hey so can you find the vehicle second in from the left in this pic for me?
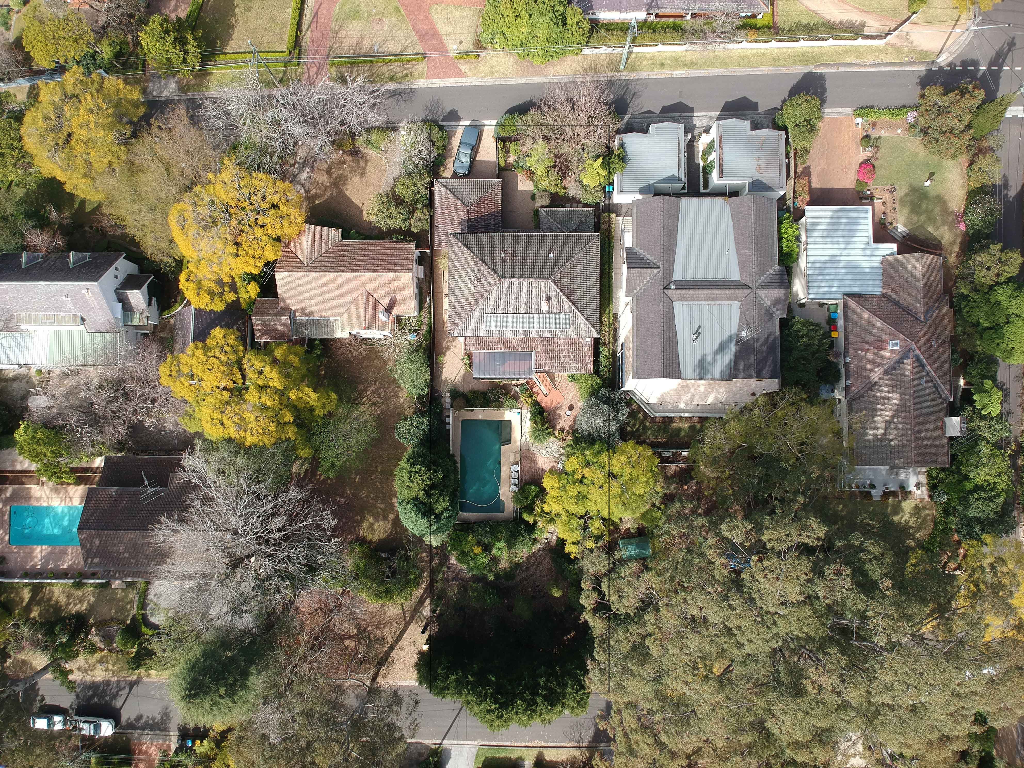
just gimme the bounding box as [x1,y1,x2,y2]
[64,716,115,742]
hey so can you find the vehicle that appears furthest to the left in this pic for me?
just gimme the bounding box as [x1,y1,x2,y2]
[25,714,63,735]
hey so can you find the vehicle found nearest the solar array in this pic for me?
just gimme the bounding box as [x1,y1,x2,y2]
[455,123,481,175]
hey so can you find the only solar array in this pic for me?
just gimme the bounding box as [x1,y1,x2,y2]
[485,313,571,330]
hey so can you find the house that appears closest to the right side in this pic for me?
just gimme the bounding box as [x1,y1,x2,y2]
[803,205,964,468]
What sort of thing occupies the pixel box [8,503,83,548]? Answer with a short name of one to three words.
swimming pool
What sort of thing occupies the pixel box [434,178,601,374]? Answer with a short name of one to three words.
house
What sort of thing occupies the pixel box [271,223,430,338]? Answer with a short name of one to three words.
house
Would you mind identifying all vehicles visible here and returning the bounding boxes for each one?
[455,123,481,175]
[64,716,115,742]
[25,714,63,735]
